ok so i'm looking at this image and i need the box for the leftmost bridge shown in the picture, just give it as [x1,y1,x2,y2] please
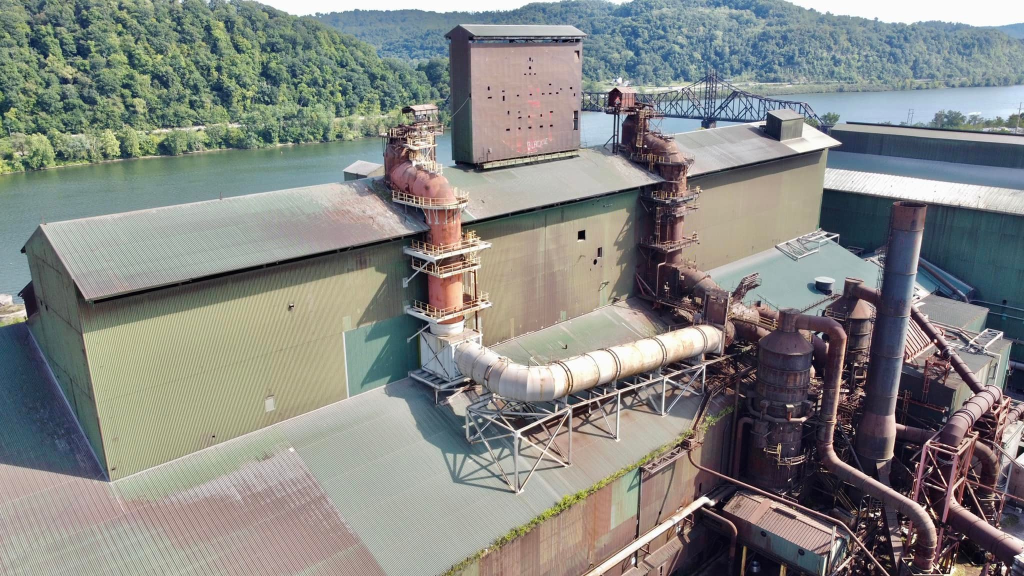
[581,70,837,135]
